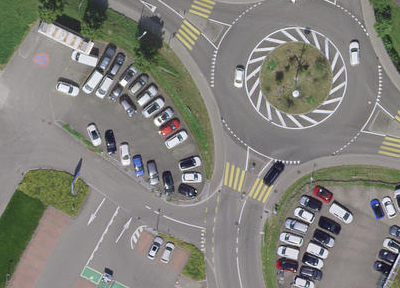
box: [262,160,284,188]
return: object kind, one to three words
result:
vehicle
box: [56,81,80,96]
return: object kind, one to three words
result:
car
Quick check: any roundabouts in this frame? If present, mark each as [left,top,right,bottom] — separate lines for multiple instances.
[210,0,382,164]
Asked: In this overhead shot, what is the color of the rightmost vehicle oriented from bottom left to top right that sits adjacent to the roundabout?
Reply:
black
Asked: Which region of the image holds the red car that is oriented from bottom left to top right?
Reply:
center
